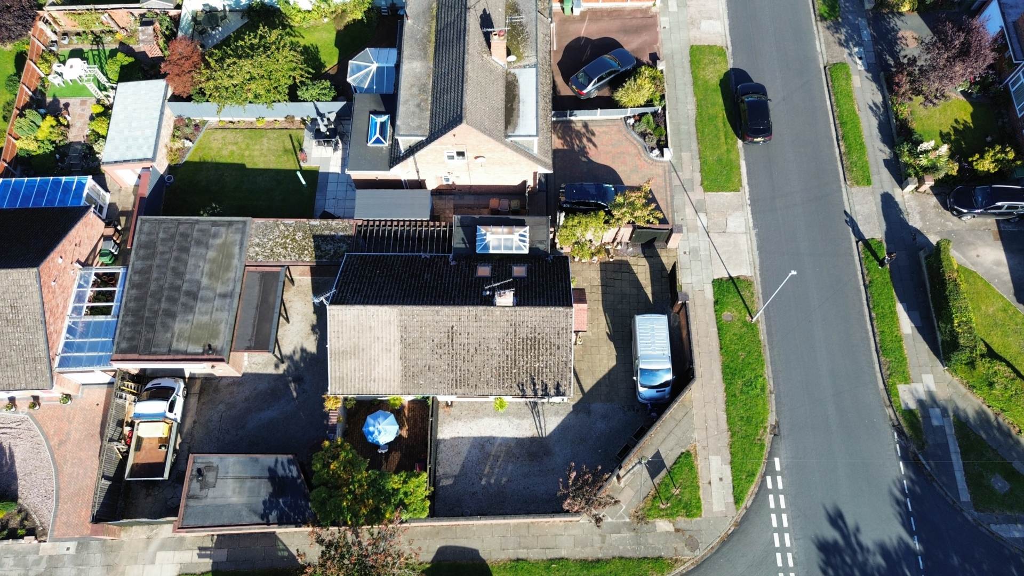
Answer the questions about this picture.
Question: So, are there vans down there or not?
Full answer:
Yes, I can see a van in this picture.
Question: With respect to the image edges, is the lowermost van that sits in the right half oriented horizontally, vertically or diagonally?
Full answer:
Seen from above, the lowermost van that sits in the right half lies vertically.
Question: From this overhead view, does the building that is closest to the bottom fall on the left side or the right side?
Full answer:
The building that is closest to the bottom appears in the left half of the scene.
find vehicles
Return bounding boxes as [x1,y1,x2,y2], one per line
[939,185,1024,226]
[556,178,638,219]
[628,311,680,409]
[732,84,774,147]
[125,376,193,479]
[565,47,643,102]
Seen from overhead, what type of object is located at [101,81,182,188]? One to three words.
building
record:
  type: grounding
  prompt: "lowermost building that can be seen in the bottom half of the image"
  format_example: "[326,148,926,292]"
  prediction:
[176,454,314,532]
